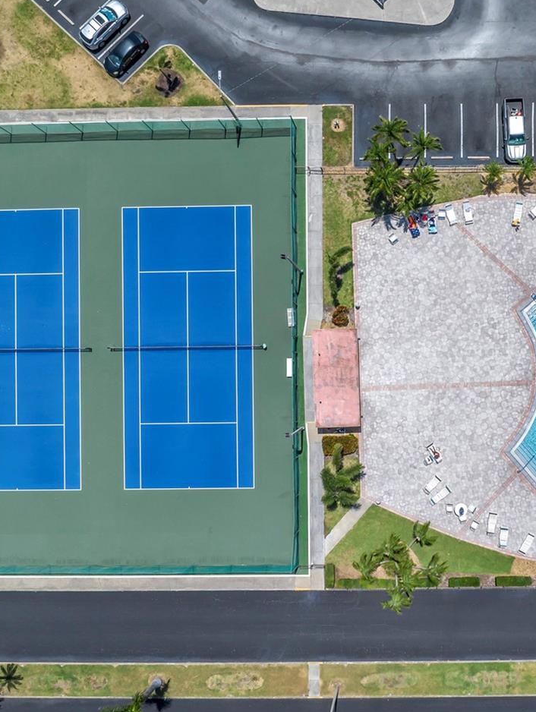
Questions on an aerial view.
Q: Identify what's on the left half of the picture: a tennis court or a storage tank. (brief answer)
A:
tennis court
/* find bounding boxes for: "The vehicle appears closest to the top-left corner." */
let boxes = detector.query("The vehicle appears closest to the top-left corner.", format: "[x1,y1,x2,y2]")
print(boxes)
[76,1,129,51]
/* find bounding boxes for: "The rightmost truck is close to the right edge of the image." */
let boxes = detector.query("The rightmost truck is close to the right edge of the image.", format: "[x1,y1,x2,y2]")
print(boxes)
[500,95,530,164]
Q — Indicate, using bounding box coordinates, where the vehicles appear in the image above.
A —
[76,1,129,51]
[101,28,153,80]
[500,95,530,164]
